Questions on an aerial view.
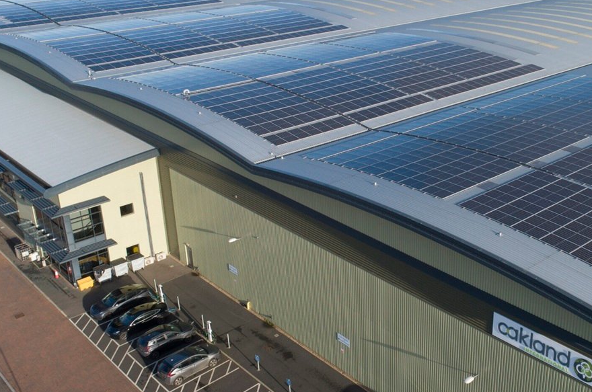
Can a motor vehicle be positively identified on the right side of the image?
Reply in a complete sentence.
No, the scene shows no motor vehicle on the right side of the image.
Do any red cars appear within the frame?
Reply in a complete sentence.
No, there's no red car here.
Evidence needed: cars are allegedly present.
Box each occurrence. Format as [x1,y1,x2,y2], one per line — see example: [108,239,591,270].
[87,281,150,315]
[162,345,225,383]
[106,297,172,335]
[136,318,202,357]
